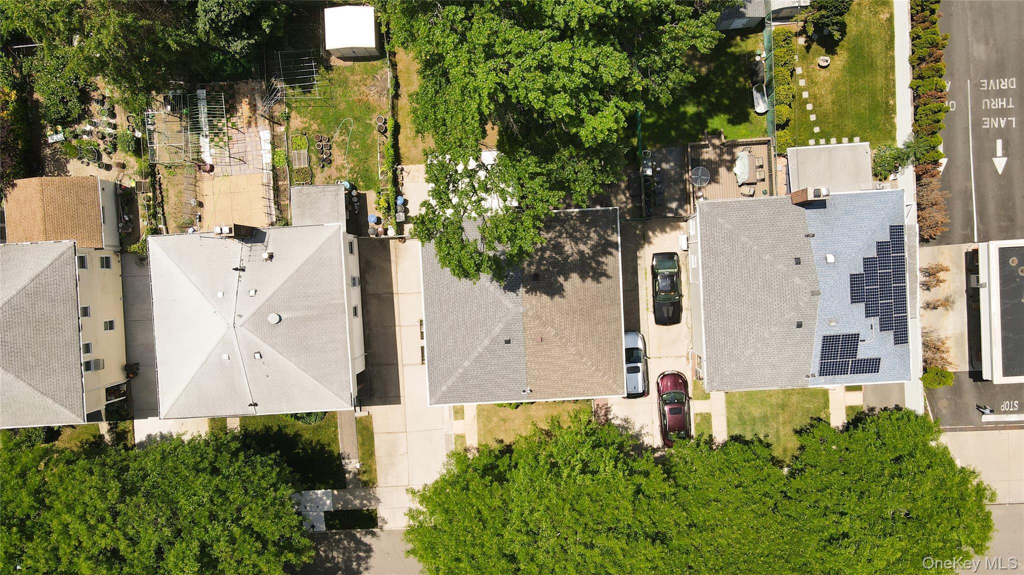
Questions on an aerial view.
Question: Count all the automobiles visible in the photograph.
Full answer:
Altogether the scene contains 3 automobiles.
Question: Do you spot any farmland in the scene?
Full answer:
No, the scene doesn't show any farmland.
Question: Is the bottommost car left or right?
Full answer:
The bottommost car sits on the right side.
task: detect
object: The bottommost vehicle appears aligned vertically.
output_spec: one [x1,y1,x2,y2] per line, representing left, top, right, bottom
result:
[655,371,692,447]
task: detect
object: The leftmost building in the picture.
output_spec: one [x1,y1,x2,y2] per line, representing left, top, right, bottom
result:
[0,174,129,430]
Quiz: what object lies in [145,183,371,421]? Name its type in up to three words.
house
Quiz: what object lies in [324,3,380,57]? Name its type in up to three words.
shed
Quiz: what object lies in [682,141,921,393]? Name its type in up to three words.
house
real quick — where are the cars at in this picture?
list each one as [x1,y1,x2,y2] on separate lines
[651,252,685,325]
[655,371,692,447]
[625,330,654,399]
